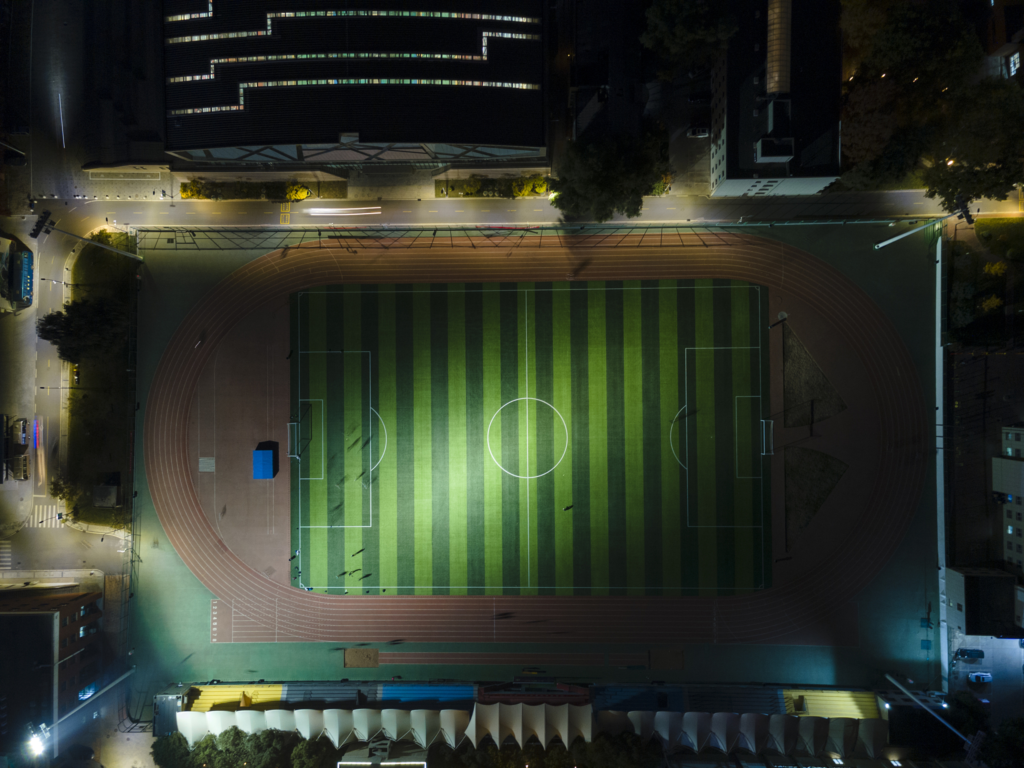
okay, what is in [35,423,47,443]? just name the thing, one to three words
vehicle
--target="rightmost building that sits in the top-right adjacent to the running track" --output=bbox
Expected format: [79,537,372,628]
[709,0,840,197]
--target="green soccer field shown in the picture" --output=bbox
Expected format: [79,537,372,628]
[290,280,773,597]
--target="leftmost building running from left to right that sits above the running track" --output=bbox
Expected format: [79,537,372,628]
[163,0,551,183]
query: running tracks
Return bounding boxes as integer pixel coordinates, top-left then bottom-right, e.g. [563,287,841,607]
[147,232,925,646]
